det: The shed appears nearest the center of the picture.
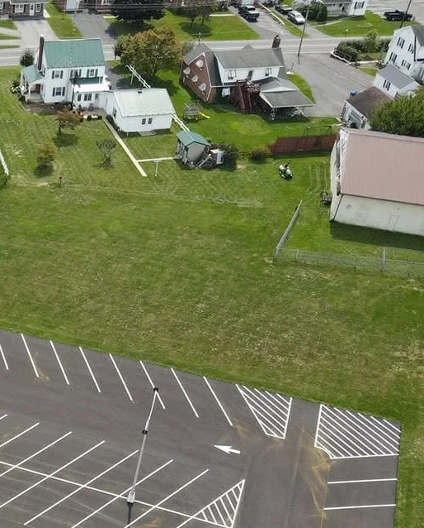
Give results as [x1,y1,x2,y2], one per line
[173,128,211,164]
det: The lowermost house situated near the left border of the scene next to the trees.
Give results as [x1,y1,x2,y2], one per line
[19,30,112,108]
